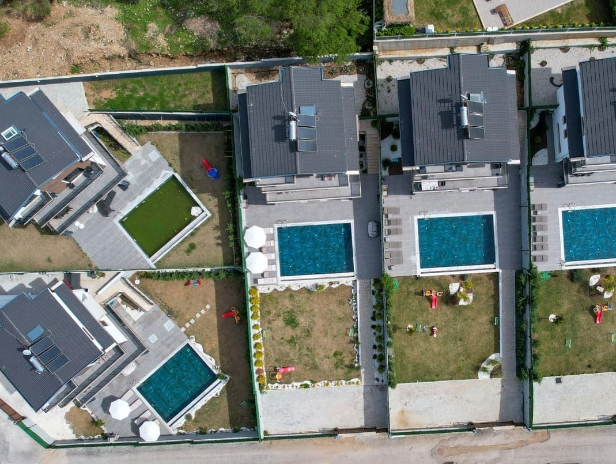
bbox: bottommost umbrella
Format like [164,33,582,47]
[138,420,161,441]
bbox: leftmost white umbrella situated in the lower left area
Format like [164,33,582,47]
[109,398,131,420]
